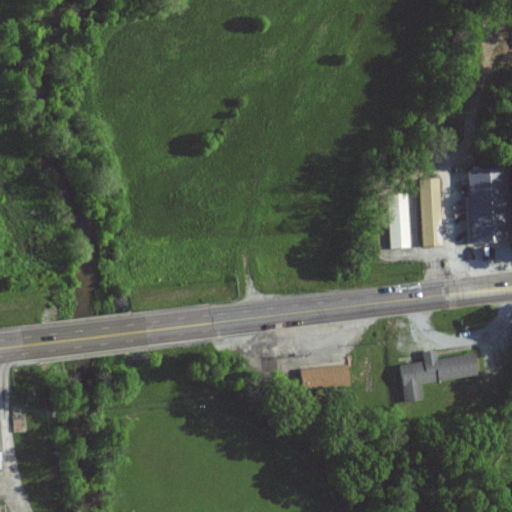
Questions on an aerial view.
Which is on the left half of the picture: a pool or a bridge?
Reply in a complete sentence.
The feature located on the left half of the picture is a bridge.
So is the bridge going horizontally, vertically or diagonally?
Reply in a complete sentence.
The bridge runs horizontally in the image.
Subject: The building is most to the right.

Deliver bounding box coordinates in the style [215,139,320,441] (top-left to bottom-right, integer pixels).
[468,172,510,244]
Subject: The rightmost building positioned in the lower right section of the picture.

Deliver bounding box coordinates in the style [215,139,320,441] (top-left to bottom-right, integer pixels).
[400,349,476,401]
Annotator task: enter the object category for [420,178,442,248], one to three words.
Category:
shed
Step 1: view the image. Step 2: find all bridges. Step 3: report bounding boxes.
[20,311,148,365]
